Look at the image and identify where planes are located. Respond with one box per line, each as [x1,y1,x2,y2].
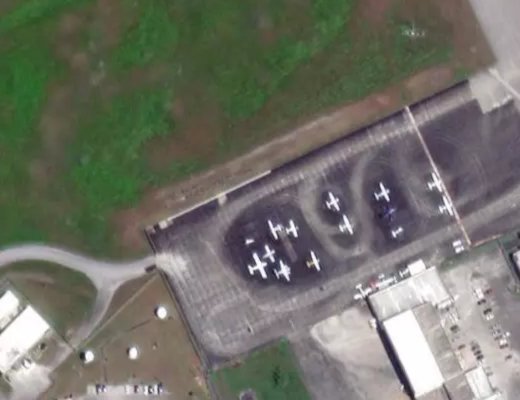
[375,182,389,201]
[305,250,320,270]
[261,244,274,262]
[268,220,283,238]
[427,173,442,191]
[273,260,291,280]
[377,273,394,286]
[379,203,393,219]
[247,252,267,278]
[337,214,353,234]
[354,283,371,297]
[284,219,298,237]
[437,195,452,215]
[324,192,339,211]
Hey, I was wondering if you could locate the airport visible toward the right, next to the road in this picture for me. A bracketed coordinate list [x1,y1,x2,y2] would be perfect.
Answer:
[147,0,520,400]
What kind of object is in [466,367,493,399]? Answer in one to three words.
building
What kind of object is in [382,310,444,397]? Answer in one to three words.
hangar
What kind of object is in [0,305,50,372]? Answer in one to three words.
building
